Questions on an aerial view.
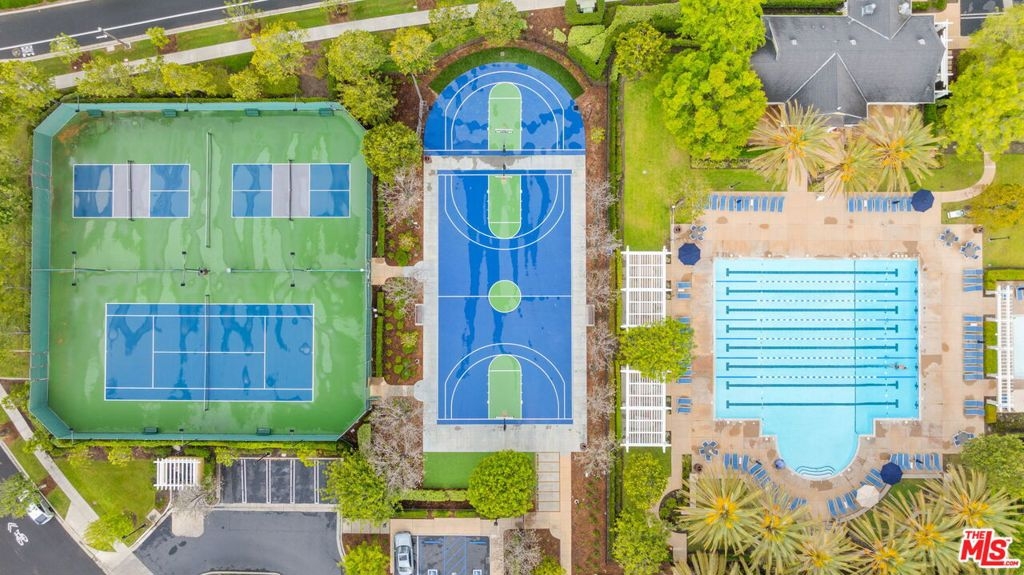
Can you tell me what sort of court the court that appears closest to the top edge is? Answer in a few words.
basketball court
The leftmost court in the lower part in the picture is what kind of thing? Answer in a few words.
tennis court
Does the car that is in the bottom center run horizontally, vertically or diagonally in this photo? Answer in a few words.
vertically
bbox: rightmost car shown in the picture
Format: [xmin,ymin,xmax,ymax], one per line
[393,529,413,574]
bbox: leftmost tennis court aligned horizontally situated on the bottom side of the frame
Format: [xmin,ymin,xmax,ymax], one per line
[105,304,313,402]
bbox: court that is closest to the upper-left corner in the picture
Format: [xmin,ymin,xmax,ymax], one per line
[73,164,189,217]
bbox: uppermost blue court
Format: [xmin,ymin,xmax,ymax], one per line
[424,62,584,154]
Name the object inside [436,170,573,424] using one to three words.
basketball court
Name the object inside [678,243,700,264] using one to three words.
umbrella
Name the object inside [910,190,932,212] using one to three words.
umbrella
